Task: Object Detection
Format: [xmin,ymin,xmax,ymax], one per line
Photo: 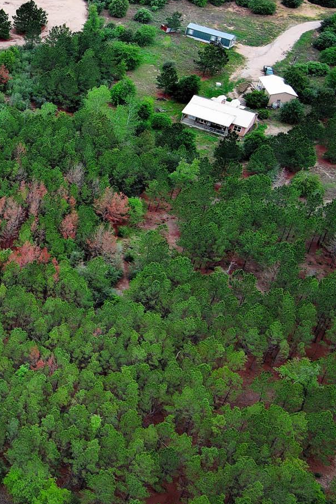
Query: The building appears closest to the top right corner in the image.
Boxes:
[253,73,298,108]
